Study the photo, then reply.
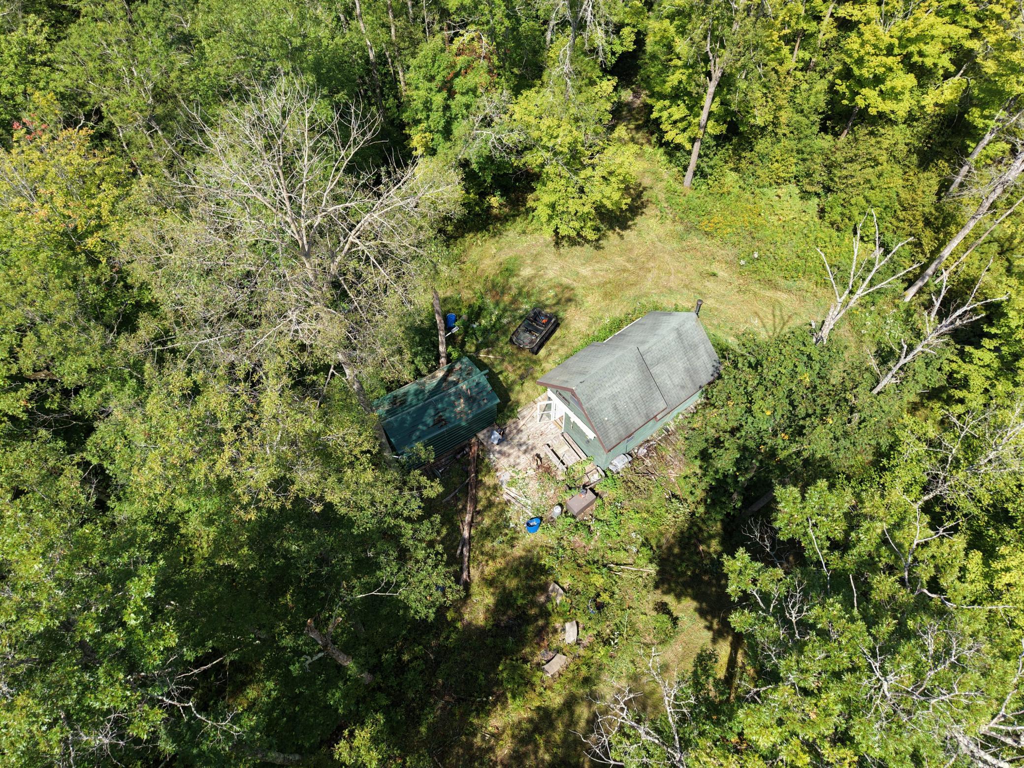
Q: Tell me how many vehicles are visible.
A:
1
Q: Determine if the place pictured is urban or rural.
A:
rural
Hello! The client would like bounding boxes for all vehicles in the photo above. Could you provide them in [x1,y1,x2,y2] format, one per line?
[508,309,560,357]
